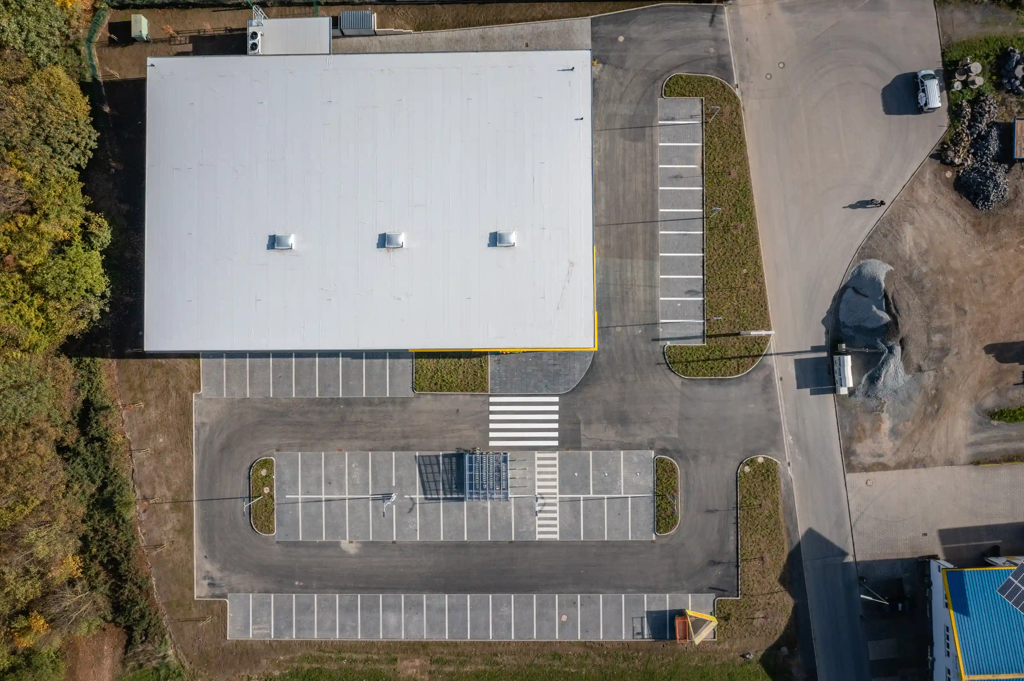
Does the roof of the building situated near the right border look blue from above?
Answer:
Yes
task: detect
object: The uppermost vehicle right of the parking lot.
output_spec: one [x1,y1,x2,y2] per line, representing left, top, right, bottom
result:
[916,73,942,114]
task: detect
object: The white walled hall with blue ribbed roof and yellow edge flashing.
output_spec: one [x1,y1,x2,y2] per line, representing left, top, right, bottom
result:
[933,560,1024,681]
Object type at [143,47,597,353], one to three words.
building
